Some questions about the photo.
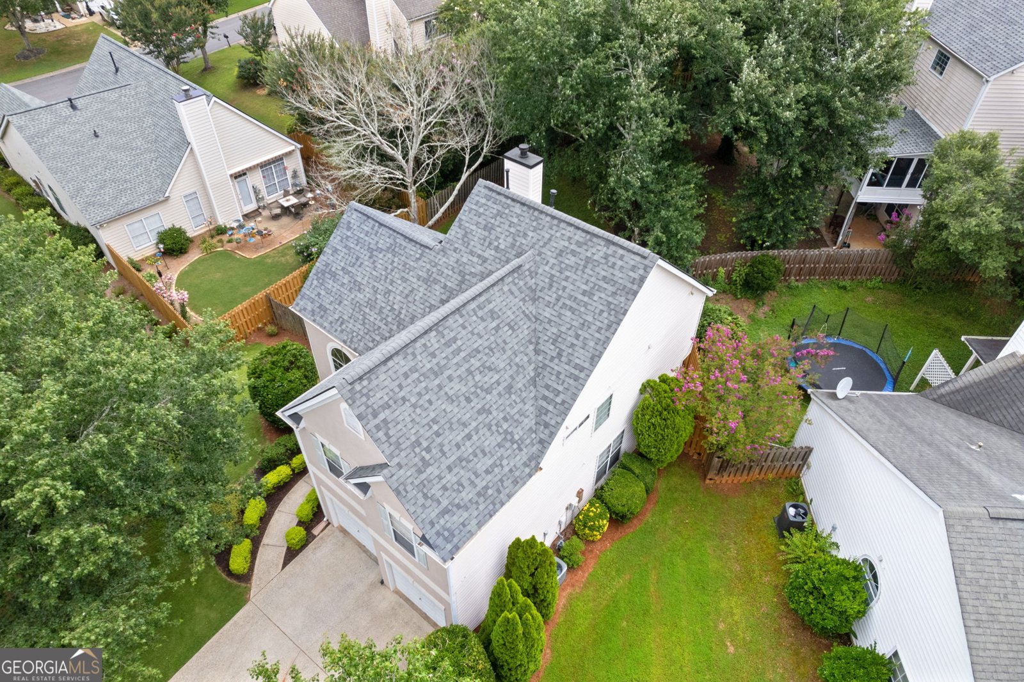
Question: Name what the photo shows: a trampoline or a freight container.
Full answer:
I can see a trampoline in this picture.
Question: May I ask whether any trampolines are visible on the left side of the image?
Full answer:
No, no trampoline appears on the left side of the image.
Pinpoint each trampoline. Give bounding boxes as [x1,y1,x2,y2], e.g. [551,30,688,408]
[787,309,924,404]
